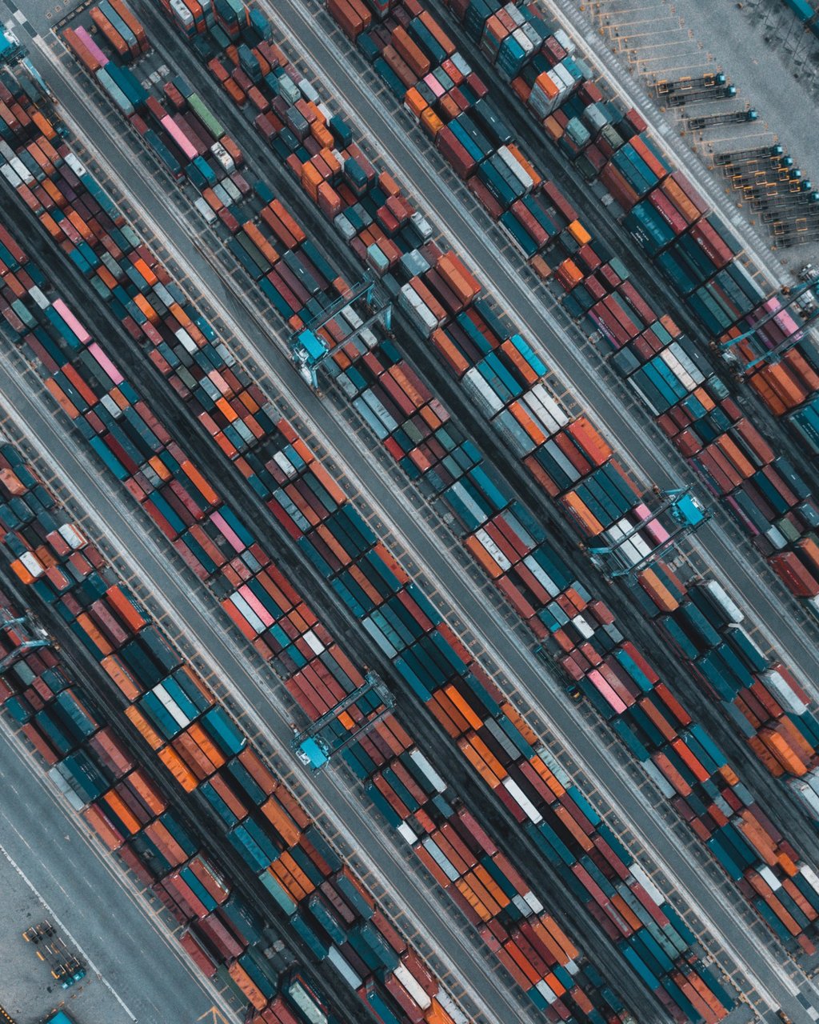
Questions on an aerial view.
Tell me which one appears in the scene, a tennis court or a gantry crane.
gantry crane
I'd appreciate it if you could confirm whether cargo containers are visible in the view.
Yes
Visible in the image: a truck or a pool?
truck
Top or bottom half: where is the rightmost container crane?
top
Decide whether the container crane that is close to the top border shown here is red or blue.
blue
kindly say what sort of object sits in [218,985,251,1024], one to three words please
shipping container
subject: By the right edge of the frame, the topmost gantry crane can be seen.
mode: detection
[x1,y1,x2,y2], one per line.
[704,271,819,384]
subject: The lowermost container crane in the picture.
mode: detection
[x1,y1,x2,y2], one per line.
[278,661,400,789]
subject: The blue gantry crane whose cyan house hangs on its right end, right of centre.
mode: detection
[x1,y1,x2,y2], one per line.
[576,482,716,591]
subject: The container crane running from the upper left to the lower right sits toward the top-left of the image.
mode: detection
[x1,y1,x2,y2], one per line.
[0,18,61,105]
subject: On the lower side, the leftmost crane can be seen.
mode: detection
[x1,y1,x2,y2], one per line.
[0,603,63,660]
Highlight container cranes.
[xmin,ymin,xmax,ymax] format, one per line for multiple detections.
[0,603,63,660]
[576,482,716,591]
[0,18,61,105]
[704,271,819,384]
[277,279,397,397]
[278,661,400,789]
